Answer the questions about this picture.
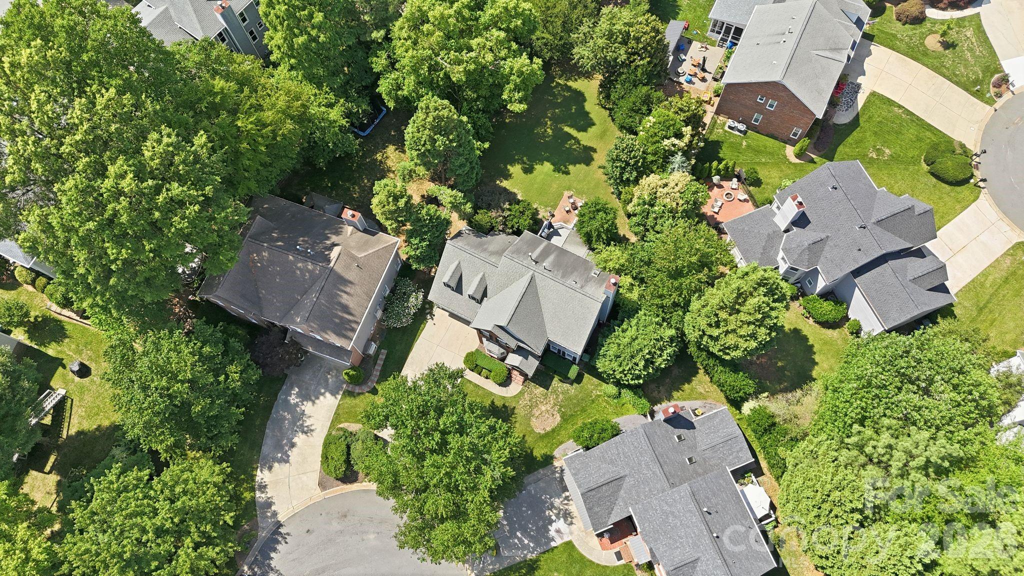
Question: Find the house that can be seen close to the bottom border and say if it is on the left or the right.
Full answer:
You can find the house that can be seen close to the bottom border on the right side of the picture.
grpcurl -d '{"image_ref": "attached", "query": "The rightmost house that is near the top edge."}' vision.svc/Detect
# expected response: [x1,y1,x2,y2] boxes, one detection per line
[705,0,871,148]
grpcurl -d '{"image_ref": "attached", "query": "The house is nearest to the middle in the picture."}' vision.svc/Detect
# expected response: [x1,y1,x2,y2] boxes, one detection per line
[427,217,622,391]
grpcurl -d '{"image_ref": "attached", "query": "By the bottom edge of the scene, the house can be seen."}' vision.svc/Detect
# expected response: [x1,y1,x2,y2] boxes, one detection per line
[562,403,779,576]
